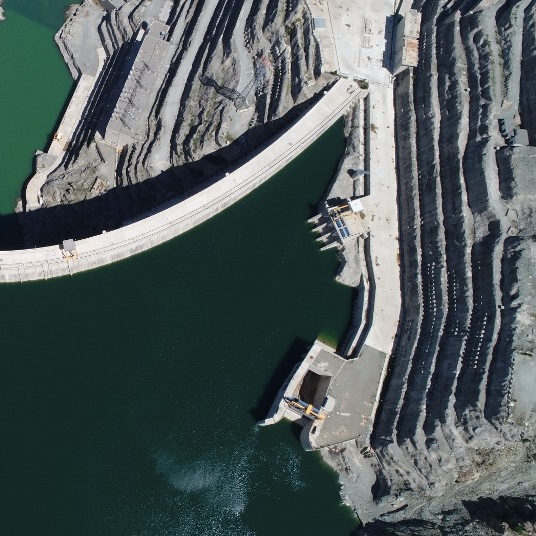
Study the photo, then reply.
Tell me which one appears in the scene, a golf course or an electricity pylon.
electricity pylon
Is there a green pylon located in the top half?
No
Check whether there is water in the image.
Yes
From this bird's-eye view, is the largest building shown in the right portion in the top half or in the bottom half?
top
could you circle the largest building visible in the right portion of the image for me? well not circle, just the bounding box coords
[392,8,422,74]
